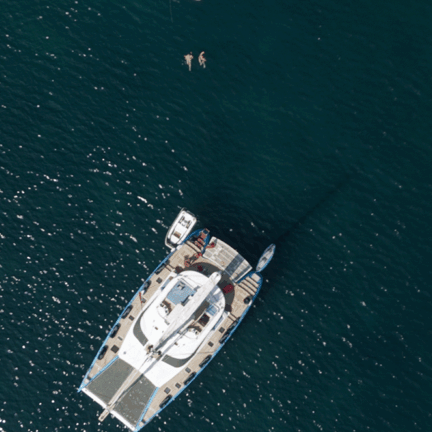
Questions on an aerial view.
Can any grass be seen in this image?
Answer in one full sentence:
No, no grass is visible.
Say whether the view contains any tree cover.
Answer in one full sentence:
No, there's no tree cover in this view.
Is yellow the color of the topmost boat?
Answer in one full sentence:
No, the topmost boat is actually white.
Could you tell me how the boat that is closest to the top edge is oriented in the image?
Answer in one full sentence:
The boat that is closest to the top edge is oriented at an angle.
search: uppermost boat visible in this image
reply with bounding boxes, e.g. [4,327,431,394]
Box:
[163,208,197,251]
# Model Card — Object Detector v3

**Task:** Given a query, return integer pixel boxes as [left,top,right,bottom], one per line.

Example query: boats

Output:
[77,229,260,432]
[163,208,197,251]
[255,243,275,274]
